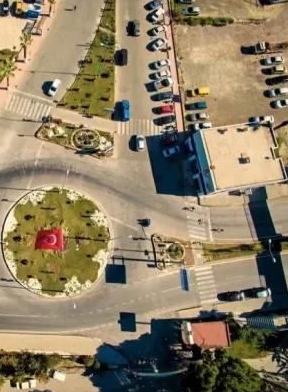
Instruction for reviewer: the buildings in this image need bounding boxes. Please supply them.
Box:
[181,317,231,346]
[182,122,288,195]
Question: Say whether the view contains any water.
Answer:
No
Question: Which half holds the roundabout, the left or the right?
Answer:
left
